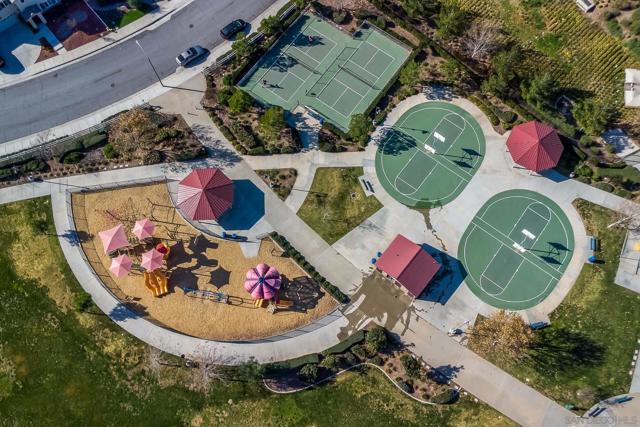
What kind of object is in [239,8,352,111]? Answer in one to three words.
sports court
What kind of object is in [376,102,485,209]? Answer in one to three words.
basketball court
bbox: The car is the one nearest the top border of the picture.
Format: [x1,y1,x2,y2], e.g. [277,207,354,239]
[218,21,247,42]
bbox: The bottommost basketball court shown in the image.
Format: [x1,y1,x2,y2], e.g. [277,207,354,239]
[459,189,575,308]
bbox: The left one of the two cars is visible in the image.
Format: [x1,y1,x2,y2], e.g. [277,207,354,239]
[174,48,204,68]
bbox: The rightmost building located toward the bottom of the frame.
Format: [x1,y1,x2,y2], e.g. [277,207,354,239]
[373,234,441,299]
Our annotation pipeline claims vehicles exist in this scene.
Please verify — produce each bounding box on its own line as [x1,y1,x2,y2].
[174,48,204,68]
[218,21,247,42]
